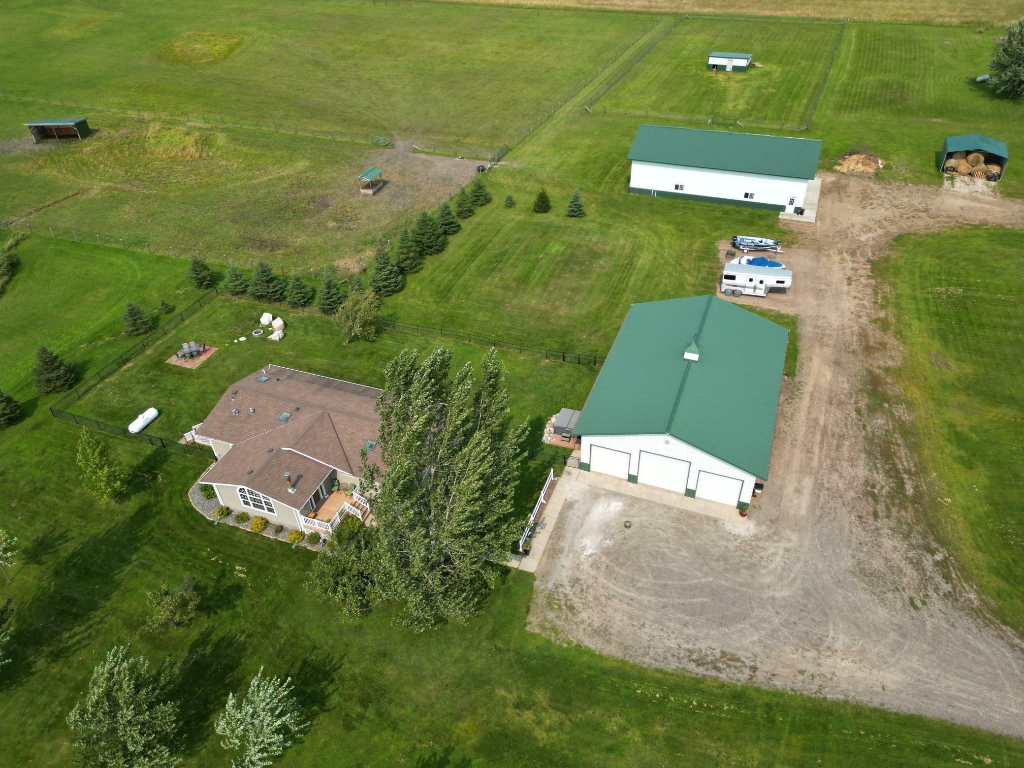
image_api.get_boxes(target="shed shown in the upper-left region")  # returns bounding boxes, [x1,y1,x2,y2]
[19,119,90,143]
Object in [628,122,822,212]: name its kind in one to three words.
shed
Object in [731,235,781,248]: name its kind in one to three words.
boat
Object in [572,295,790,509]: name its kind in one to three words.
barn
